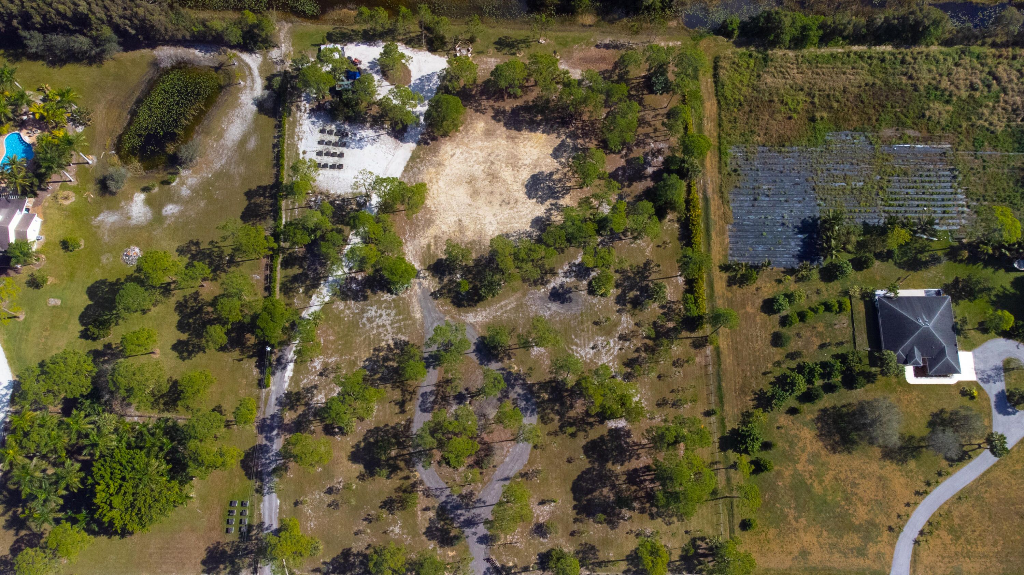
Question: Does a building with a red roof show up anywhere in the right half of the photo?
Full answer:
No, looking in the right half of the photo, there is no building with a red roof.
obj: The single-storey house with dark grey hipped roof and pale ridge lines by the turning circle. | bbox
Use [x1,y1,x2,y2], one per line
[875,296,963,375]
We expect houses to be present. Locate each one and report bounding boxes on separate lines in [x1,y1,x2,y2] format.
[875,296,963,375]
[0,196,43,259]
